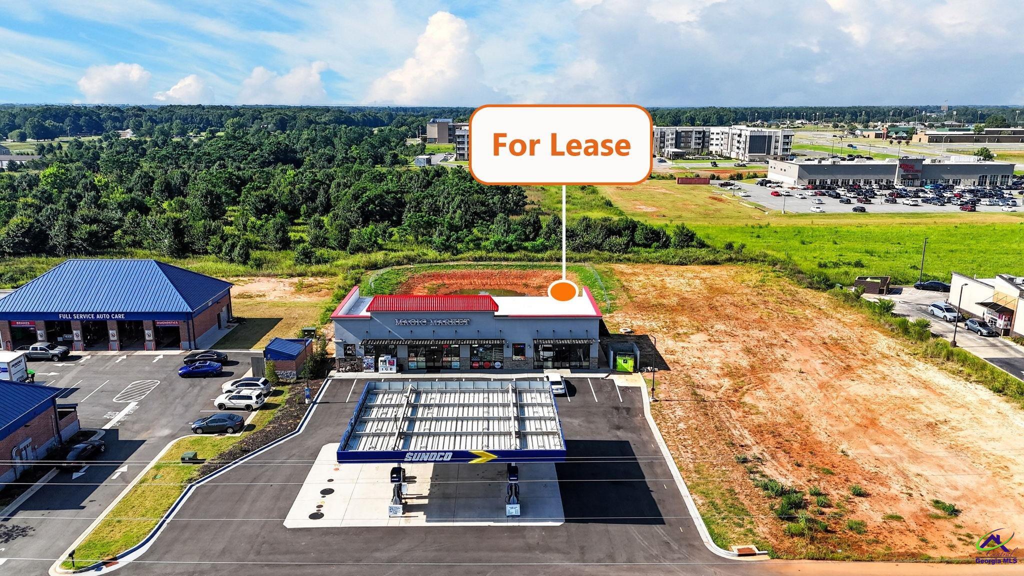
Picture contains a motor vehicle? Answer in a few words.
Yes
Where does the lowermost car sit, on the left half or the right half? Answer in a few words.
left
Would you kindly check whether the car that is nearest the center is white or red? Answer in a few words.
white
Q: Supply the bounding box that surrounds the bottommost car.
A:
[46,438,111,471]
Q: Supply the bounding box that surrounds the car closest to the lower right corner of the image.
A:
[959,316,1001,334]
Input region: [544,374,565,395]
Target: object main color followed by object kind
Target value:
white car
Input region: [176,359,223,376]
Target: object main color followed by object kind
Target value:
blue car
